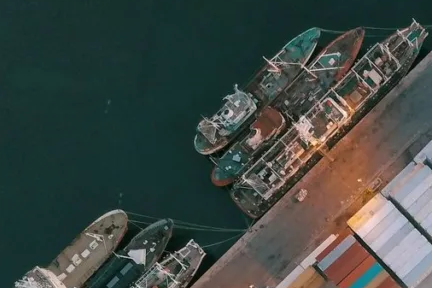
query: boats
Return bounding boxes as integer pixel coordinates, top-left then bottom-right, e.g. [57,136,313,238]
[13,208,134,288]
[205,25,366,194]
[225,18,425,222]
[193,26,322,158]
[86,218,178,288]
[128,239,211,288]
